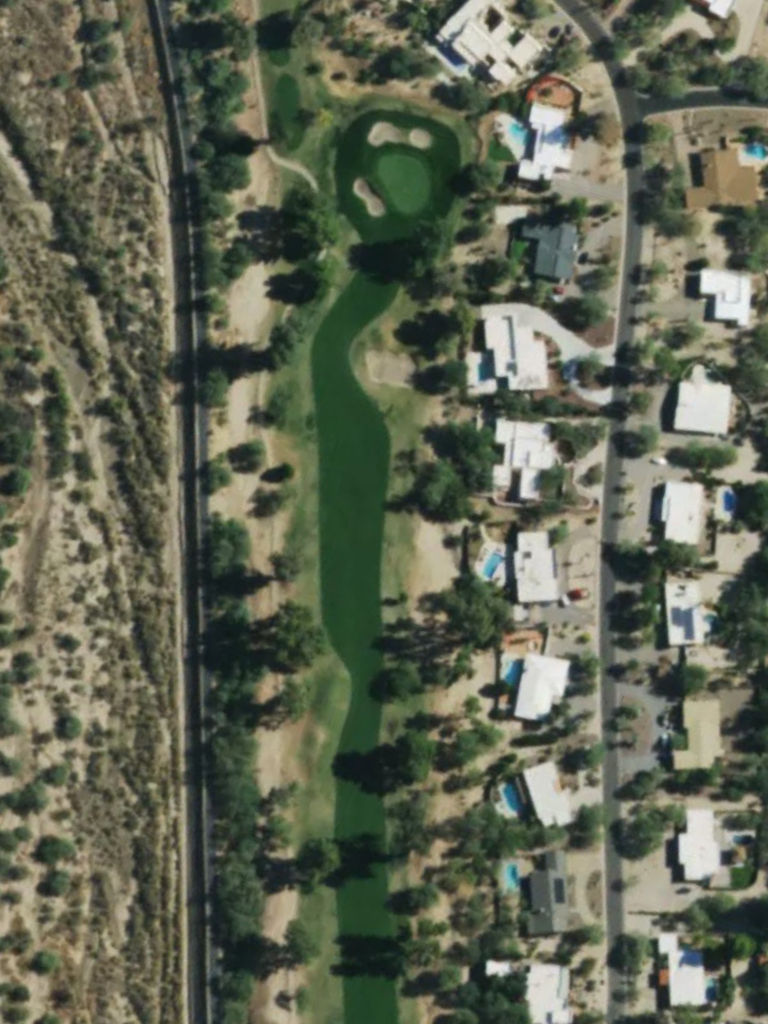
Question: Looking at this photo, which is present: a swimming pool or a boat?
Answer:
swimming pool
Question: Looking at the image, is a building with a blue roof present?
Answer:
No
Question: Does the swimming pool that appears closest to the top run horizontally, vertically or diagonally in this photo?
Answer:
diagonally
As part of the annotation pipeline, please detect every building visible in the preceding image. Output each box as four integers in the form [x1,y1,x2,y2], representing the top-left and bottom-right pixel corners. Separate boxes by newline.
[514,653,571,721]
[674,698,723,770]
[518,103,575,180]
[485,314,549,390]
[486,960,510,977]
[686,146,759,209]
[696,0,735,18]
[659,933,705,1006]
[666,581,708,645]
[678,809,720,881]
[700,269,751,325]
[524,762,573,827]
[514,605,528,621]
[663,481,704,545]
[492,419,556,499]
[527,851,570,937]
[523,220,579,281]
[436,0,542,85]
[526,965,574,1024]
[515,532,559,602]
[674,363,731,434]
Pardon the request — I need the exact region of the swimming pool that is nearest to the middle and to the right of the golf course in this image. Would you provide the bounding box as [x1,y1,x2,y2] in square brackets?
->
[482,552,504,579]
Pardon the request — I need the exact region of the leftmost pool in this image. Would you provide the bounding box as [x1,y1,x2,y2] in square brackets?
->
[439,45,467,70]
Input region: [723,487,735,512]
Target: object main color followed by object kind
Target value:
blue swimming pool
